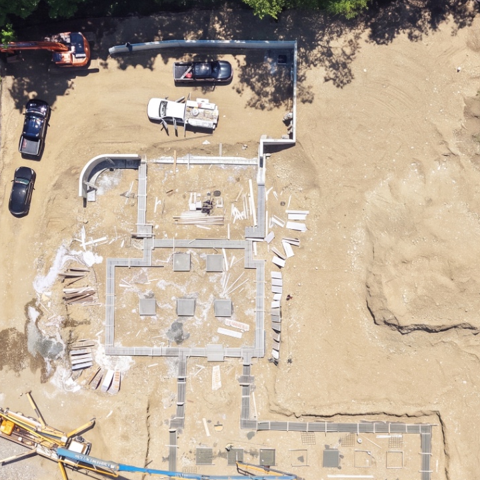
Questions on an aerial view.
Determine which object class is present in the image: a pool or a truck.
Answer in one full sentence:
This aerial view contains a truck.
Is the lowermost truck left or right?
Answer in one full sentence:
It is on the left.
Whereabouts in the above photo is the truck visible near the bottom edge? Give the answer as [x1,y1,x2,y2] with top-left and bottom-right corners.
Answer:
[0,389,299,480]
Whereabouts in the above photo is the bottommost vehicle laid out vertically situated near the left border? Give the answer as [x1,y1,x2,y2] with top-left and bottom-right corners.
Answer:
[7,165,34,216]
